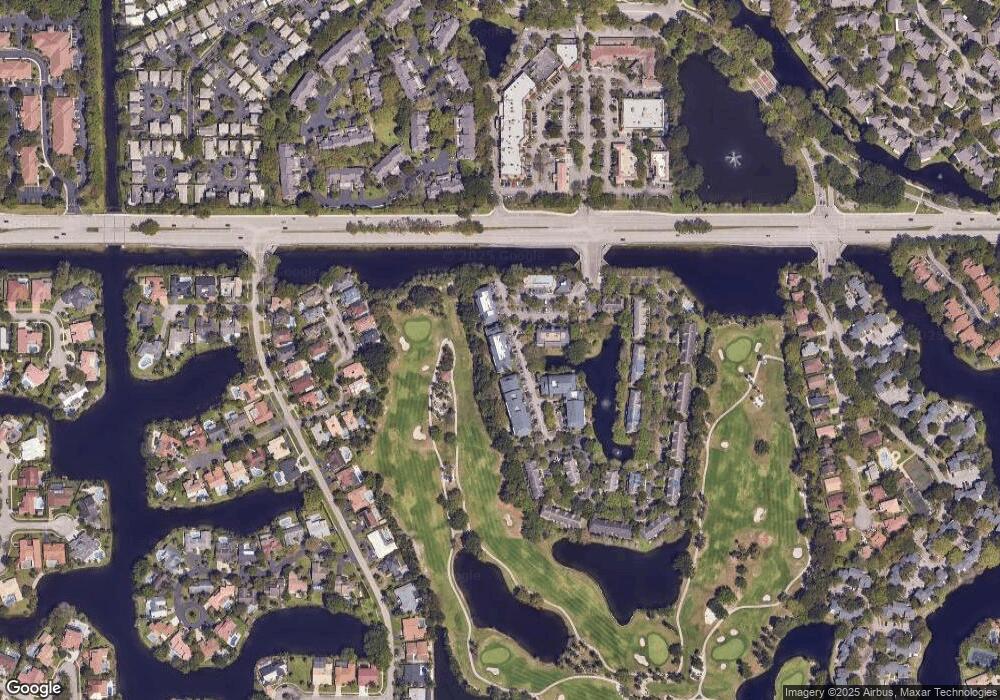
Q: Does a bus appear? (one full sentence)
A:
No, the scene contains no bus.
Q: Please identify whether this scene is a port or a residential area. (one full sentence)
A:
The picture captures a residential area.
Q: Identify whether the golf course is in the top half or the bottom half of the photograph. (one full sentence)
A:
The golf course sits in the bottom half of the picture.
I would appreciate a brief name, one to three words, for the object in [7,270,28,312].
house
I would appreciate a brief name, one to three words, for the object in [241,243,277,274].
bridge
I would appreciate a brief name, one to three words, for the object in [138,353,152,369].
swimming pool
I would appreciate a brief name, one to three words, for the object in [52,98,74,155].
building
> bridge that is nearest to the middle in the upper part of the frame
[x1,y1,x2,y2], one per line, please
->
[572,244,610,272]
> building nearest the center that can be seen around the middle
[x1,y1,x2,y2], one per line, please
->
[480,322,515,376]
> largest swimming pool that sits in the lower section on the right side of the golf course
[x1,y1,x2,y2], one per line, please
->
[878,447,900,469]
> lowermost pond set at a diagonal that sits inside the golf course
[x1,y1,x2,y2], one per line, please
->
[453,550,567,662]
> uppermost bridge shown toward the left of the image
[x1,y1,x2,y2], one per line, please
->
[103,213,126,248]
